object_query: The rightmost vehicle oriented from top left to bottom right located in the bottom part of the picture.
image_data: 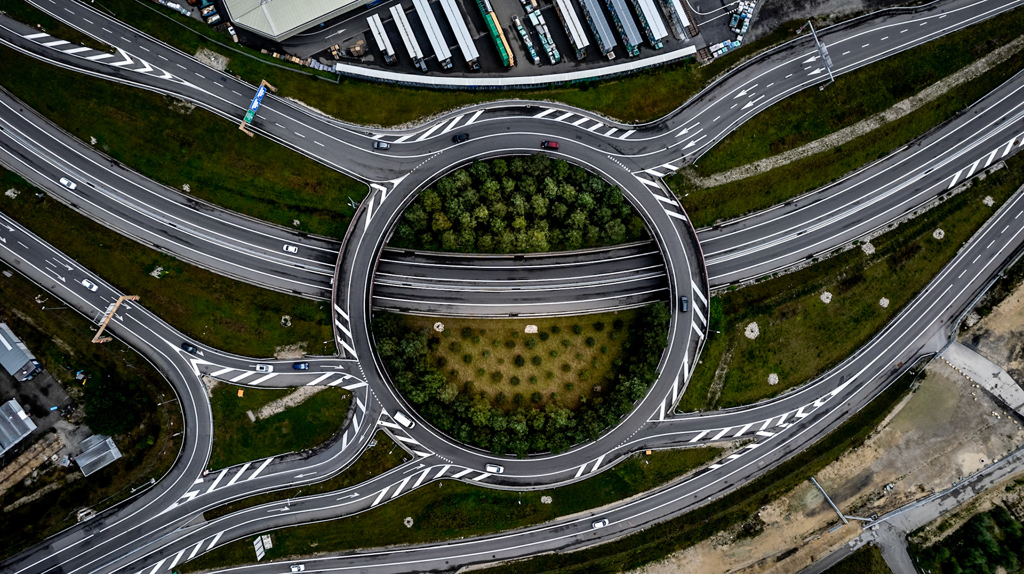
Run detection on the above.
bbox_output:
[393,412,413,429]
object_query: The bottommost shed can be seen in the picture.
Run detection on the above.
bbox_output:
[75,433,128,477]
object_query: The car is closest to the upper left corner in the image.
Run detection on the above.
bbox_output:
[57,176,75,189]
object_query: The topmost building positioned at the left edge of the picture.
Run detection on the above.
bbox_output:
[0,313,45,381]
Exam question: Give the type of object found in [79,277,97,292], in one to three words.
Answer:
car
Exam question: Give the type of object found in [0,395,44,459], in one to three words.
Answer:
building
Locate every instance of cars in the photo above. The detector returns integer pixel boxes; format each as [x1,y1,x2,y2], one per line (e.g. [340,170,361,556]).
[541,139,559,148]
[179,343,196,354]
[57,176,75,189]
[79,277,97,292]
[373,140,389,149]
[681,296,689,312]
[292,363,308,371]
[281,244,299,253]
[289,565,305,574]
[255,364,273,373]
[592,519,610,531]
[451,131,470,142]
[485,465,504,475]
[327,278,332,285]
